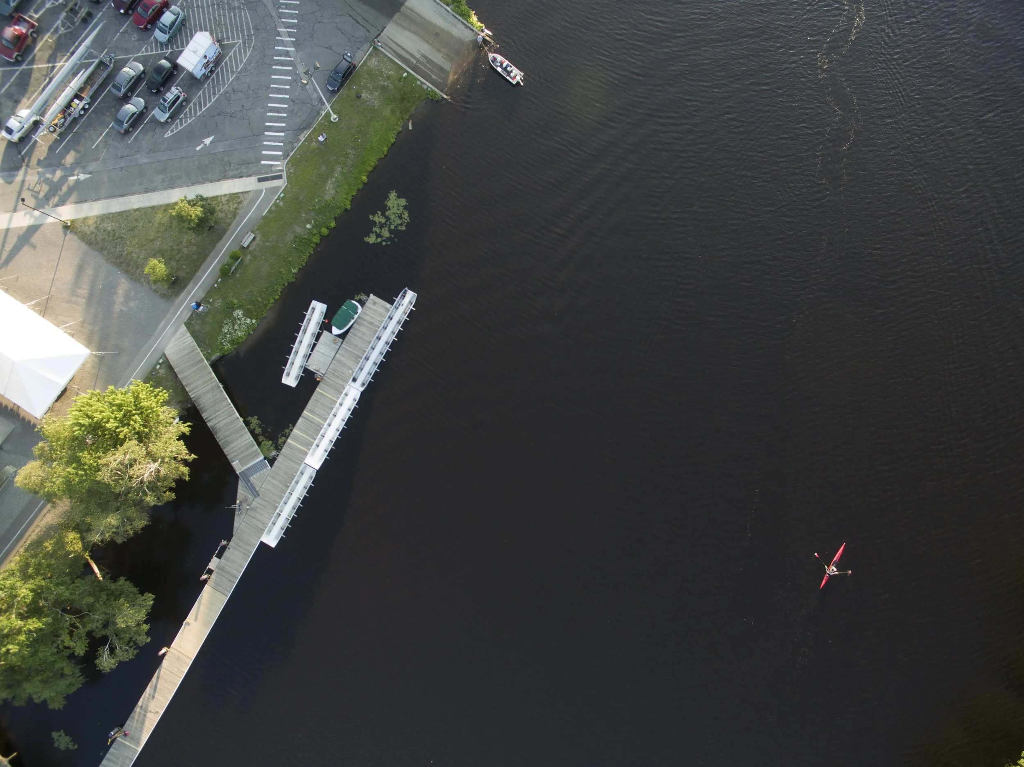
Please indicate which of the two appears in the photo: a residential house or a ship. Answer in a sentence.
Of the two, only a ship appears.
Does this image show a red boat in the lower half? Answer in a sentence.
Yes, looking in the lower half, one can make out a red boat.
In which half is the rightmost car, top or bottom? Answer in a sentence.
The rightmost car is in the top half of the image.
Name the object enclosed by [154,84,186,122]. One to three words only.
car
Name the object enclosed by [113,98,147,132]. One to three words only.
car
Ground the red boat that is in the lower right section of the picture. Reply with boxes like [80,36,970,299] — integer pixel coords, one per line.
[815,543,850,589]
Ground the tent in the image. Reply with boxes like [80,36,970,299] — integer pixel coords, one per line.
[0,275,121,421]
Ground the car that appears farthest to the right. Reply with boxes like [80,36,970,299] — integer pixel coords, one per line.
[326,47,357,93]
